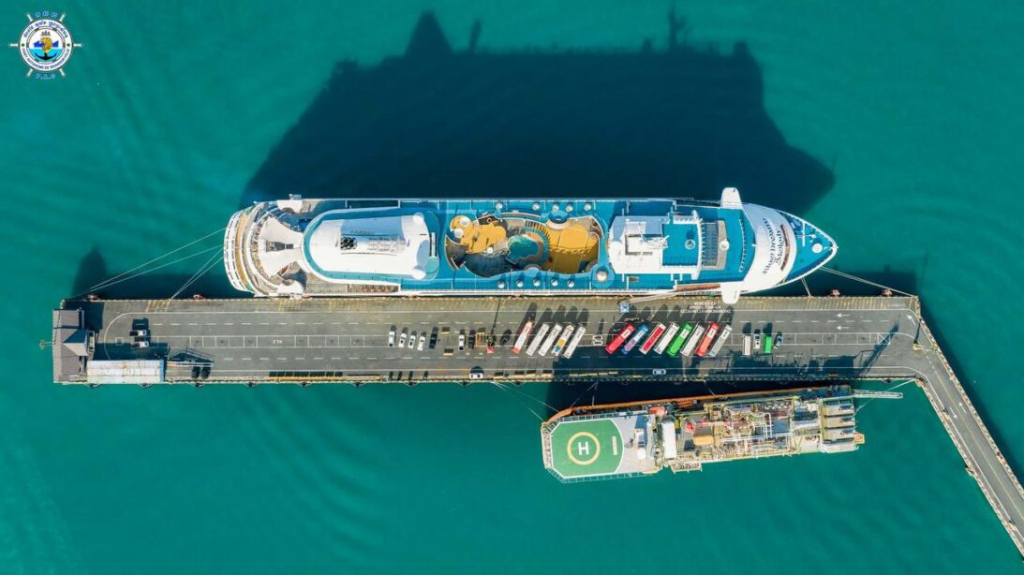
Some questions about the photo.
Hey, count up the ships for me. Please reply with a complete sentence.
The number of ships here is 2.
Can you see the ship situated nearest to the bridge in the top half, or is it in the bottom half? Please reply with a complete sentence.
The bottom half of the photo is where the ship situated nearest to the bridge is.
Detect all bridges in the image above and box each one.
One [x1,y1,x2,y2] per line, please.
[915,356,1024,559]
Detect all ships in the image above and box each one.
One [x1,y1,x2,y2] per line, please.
[225,190,844,303]
[542,383,904,483]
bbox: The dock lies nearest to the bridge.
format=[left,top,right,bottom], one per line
[53,291,943,390]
